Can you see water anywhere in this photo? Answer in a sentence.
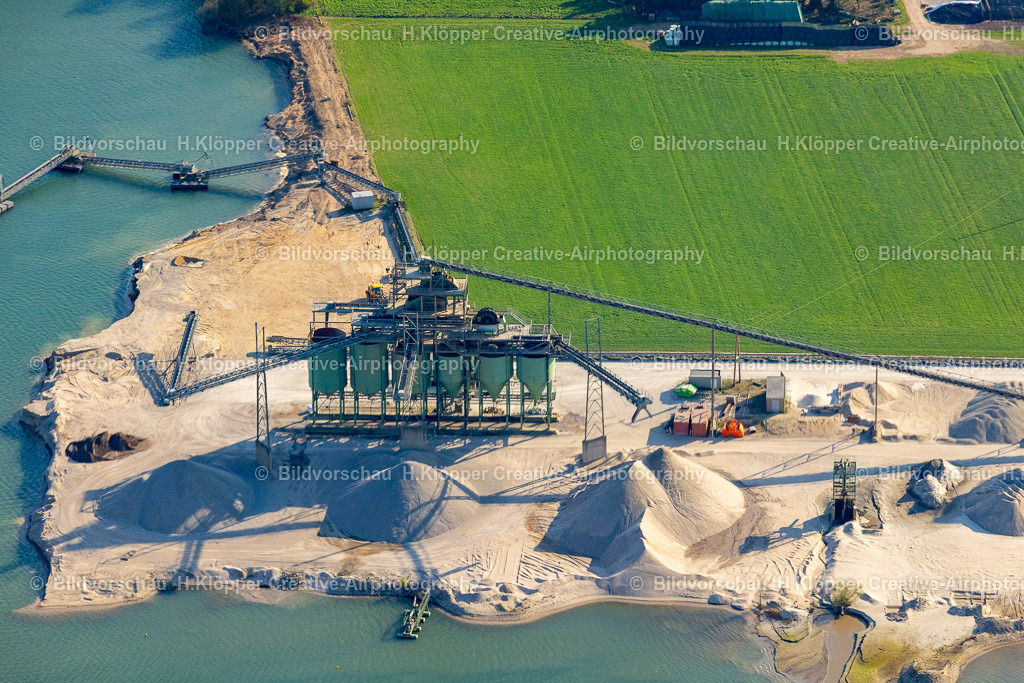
Yes, there is water in the image.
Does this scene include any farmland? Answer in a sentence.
Yes, farmland shows up in the scene.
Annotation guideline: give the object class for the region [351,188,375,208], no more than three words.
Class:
shed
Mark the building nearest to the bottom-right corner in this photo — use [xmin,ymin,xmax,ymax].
[765,370,788,413]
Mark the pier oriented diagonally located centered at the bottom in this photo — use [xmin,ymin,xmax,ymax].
[399,577,443,637]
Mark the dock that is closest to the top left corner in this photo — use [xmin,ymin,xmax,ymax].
[50,130,95,171]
